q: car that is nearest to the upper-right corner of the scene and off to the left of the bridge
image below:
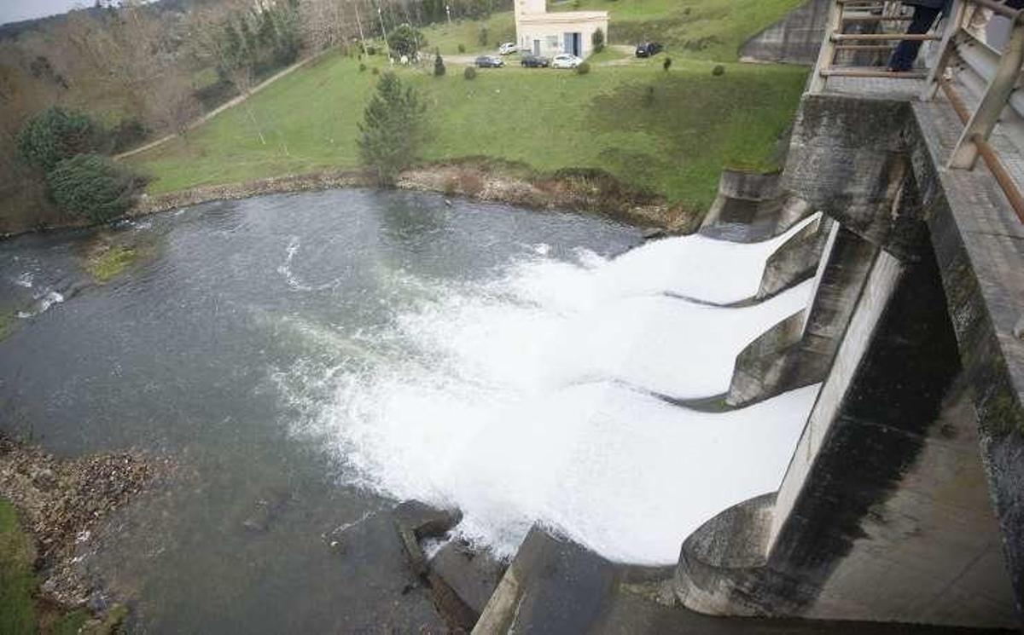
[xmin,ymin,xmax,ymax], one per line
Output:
[634,39,666,57]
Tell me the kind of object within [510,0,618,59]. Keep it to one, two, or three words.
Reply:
building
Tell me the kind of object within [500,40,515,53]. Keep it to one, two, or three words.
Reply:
vehicle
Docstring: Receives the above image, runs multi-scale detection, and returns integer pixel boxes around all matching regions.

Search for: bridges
[782,3,1024,635]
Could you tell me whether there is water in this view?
Yes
